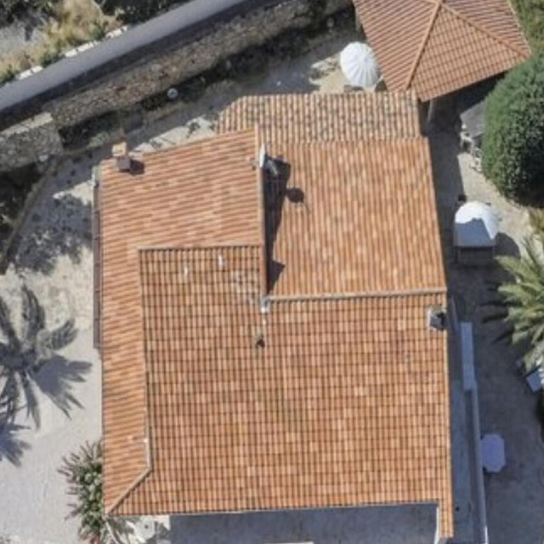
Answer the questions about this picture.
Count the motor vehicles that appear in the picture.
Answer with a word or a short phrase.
zero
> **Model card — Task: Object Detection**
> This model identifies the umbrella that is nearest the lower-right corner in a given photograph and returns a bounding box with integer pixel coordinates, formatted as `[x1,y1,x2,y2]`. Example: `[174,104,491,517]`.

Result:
[477,437,509,470]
